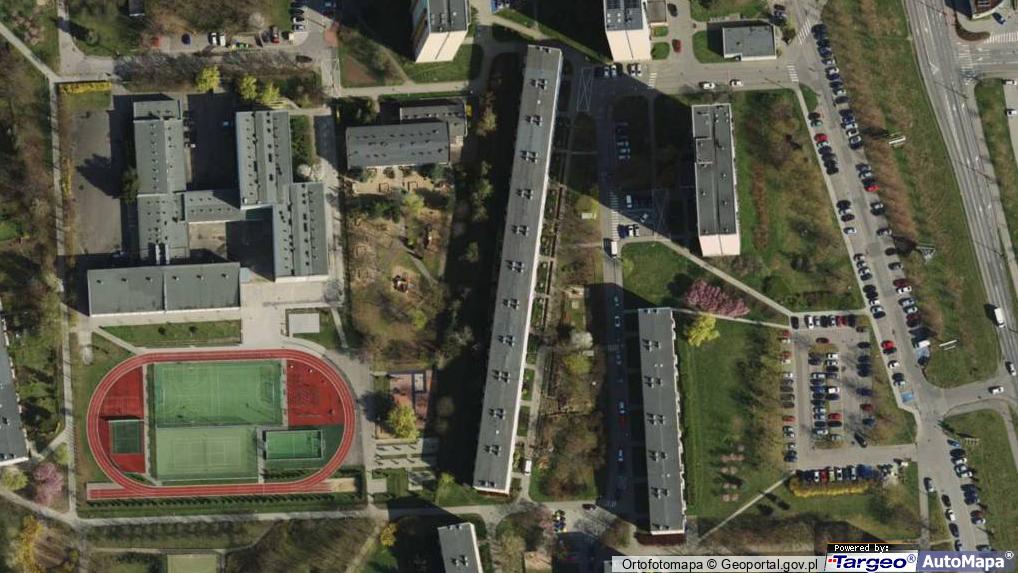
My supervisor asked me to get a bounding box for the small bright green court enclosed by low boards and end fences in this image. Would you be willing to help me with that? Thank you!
[265,429,325,461]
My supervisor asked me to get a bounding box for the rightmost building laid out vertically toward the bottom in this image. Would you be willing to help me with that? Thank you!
[638,306,689,534]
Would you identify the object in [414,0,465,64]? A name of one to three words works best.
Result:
building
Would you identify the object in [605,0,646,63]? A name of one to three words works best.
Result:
building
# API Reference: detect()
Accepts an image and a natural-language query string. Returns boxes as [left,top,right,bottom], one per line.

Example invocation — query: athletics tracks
[86,348,356,501]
